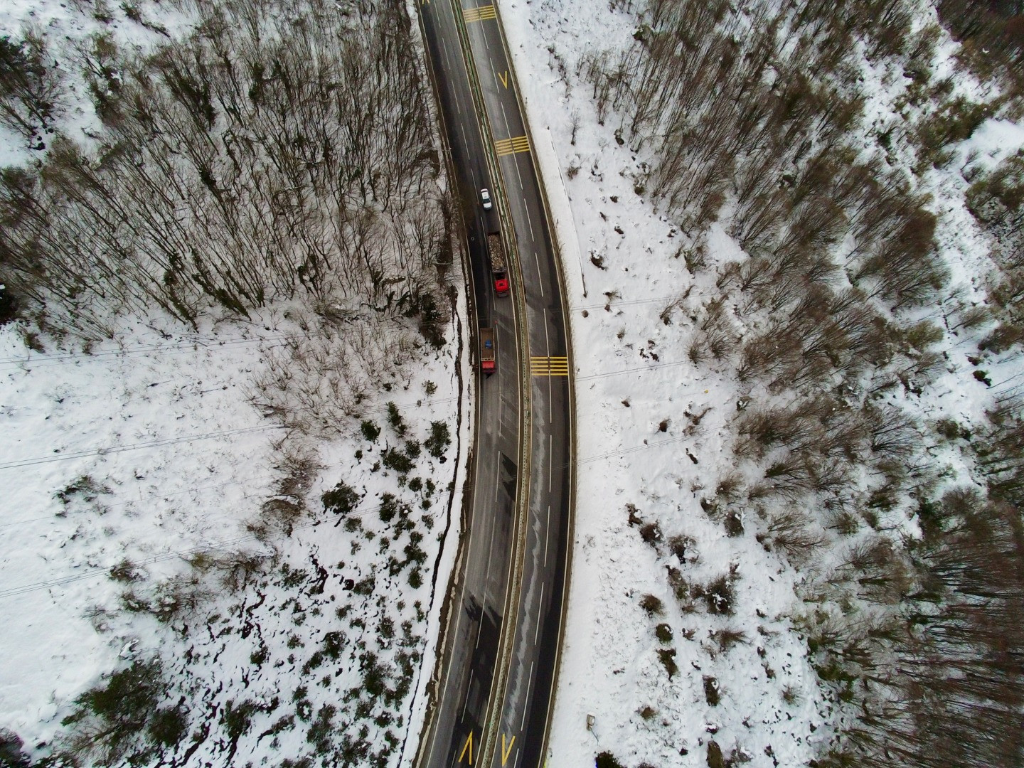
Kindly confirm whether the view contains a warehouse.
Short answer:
No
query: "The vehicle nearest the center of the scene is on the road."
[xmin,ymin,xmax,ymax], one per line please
[480,328,496,374]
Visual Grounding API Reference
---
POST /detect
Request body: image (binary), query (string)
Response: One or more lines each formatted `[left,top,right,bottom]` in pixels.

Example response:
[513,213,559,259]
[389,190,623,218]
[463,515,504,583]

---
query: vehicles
[488,232,510,299]
[480,328,496,374]
[481,190,492,211]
